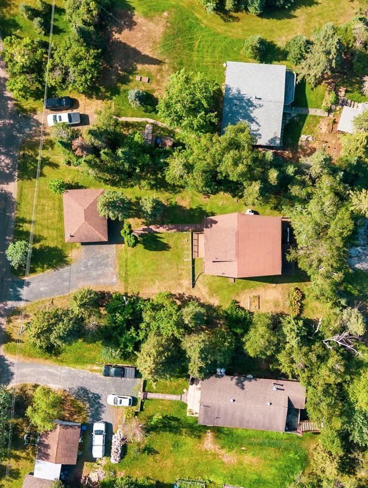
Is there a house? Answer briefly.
Yes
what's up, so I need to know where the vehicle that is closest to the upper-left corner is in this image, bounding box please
[45,96,75,110]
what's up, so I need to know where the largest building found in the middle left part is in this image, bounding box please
[62,188,108,242]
